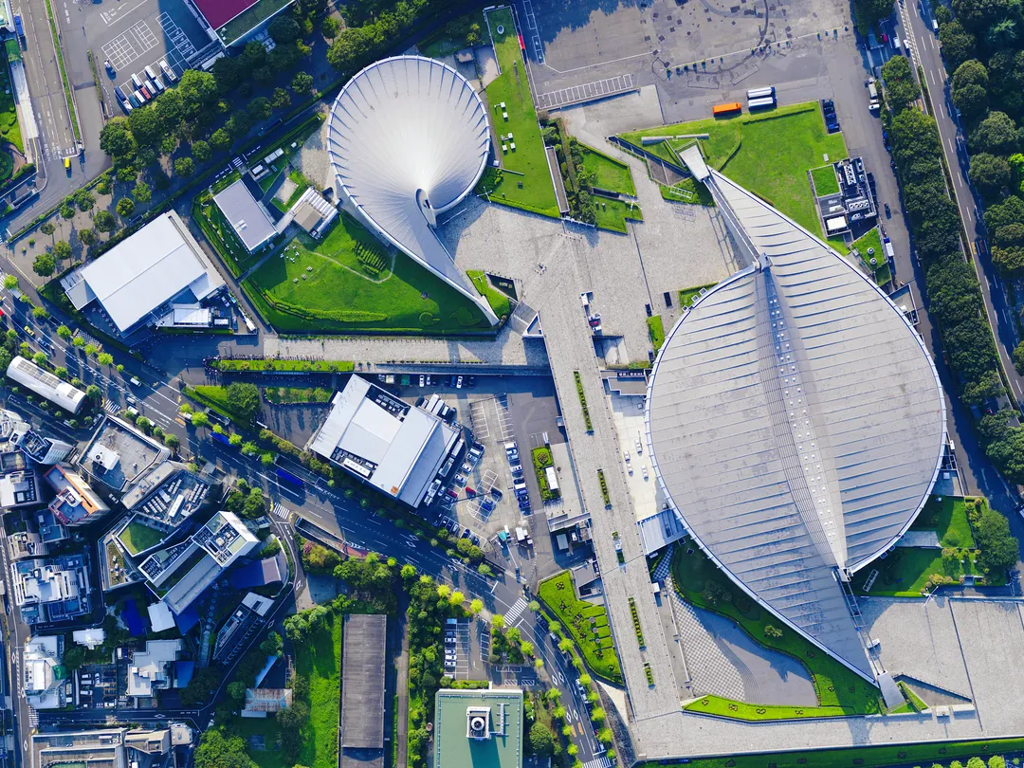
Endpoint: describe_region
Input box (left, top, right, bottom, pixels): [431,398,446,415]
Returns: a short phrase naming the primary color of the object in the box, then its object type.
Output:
white vehicle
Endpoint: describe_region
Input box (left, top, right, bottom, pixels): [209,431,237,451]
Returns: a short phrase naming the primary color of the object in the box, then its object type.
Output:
blue bus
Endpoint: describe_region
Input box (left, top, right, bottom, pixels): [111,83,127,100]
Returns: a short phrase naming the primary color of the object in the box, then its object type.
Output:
blue vehicle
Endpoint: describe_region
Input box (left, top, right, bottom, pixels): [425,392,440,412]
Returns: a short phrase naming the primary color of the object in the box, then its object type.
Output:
white vehicle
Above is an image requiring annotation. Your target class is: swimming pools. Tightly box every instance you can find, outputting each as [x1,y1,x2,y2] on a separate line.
[122,599,146,637]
